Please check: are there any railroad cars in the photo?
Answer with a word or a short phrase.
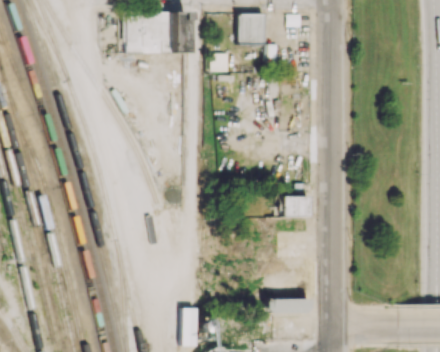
Yes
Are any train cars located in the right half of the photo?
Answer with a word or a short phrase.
No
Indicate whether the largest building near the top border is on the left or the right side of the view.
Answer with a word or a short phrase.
left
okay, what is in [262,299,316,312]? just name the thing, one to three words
building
